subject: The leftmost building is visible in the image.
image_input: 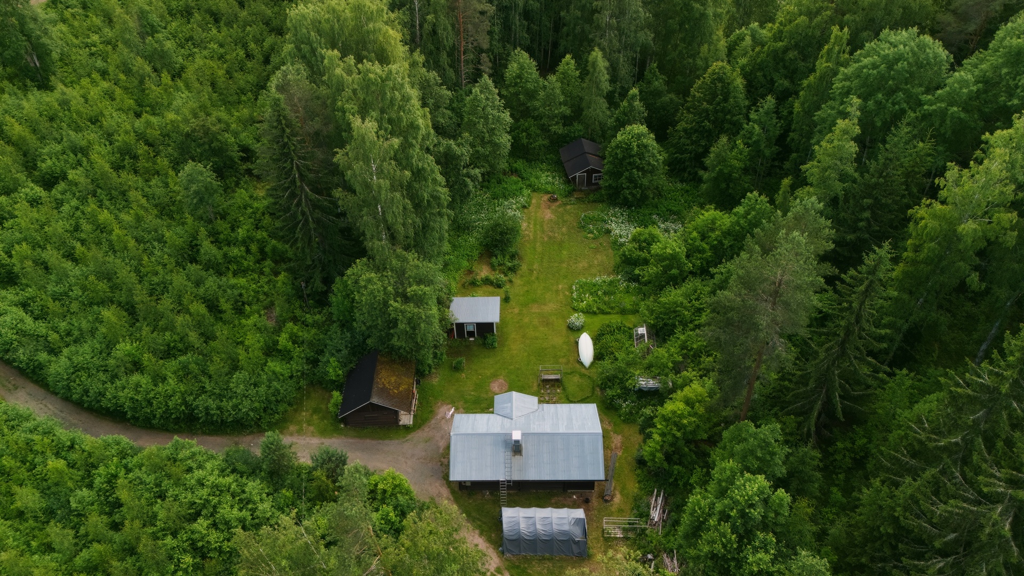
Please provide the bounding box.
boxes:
[337,343,417,425]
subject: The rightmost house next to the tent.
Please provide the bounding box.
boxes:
[448,389,609,494]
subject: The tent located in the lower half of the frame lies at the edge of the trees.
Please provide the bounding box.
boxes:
[498,508,588,555]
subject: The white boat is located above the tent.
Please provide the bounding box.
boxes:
[577,333,595,371]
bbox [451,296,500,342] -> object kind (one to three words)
shed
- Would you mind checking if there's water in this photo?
No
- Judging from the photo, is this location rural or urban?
rural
